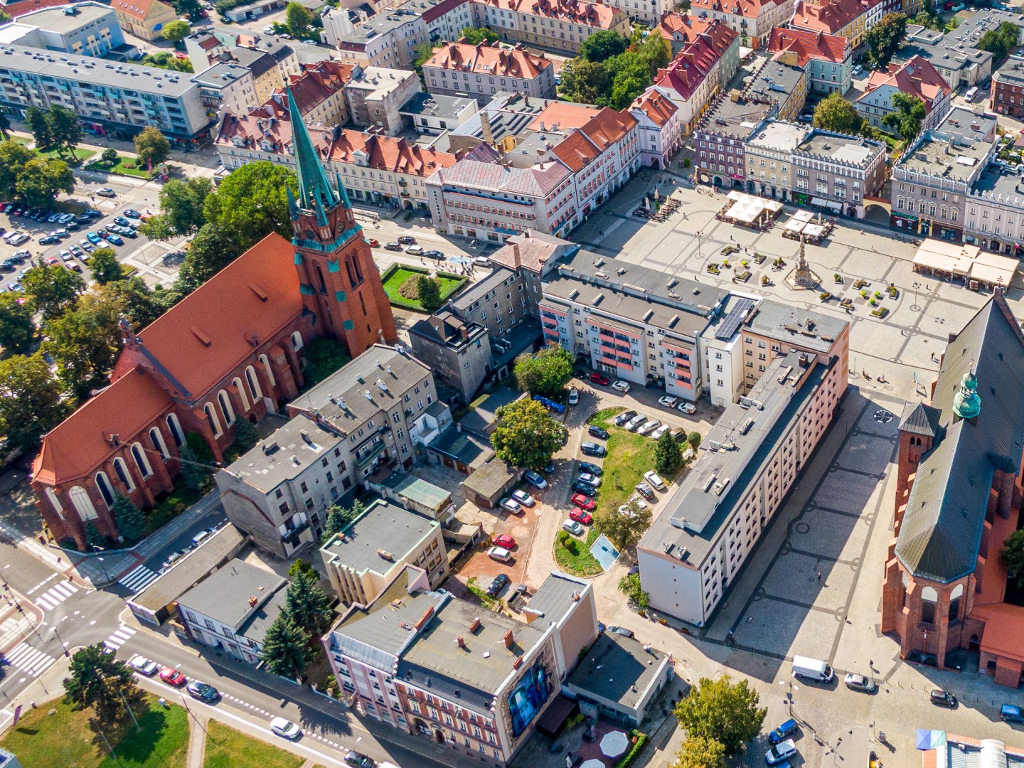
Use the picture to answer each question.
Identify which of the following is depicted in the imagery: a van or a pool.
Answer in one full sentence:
There is a van in the scene.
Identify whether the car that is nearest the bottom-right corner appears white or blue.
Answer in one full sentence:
In this view, the car that is nearest the bottom-right corner is blue.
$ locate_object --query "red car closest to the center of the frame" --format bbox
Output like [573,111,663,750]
[587,372,609,385]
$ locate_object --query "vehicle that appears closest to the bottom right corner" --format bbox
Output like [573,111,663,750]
[997,702,1024,724]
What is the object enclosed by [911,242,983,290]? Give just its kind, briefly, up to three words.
tent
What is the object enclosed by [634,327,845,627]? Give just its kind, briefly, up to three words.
building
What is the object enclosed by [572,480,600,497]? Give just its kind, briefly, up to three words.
car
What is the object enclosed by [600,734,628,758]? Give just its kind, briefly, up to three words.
umbrella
